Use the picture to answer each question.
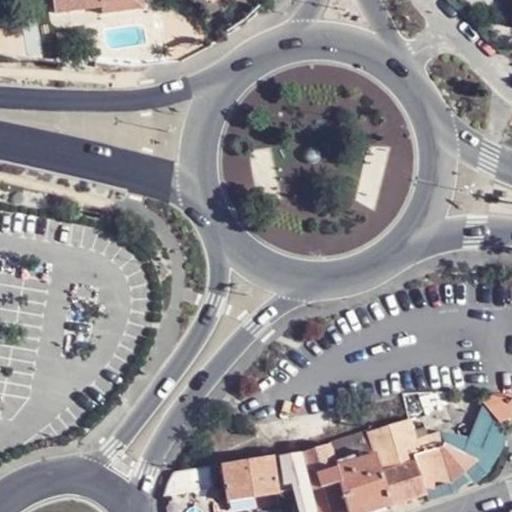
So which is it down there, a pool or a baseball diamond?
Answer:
pool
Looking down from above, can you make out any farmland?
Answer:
No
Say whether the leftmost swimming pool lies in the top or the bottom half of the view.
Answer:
top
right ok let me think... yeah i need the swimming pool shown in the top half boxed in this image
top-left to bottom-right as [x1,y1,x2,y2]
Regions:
[104,24,148,50]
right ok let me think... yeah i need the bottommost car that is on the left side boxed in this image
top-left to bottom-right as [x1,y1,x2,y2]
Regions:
[142,474,156,494]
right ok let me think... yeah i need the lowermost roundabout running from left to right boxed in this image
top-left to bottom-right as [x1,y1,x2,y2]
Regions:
[0,456,132,512]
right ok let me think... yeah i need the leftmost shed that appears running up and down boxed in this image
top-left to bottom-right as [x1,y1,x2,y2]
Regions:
[24,22,42,58]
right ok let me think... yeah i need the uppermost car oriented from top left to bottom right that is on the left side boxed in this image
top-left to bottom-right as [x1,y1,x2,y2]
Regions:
[187,206,208,225]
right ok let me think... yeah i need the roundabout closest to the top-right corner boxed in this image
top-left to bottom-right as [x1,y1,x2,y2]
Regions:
[176,18,459,301]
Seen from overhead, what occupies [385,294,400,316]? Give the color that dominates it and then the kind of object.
white vehicle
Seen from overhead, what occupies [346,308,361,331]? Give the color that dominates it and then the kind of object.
white vehicle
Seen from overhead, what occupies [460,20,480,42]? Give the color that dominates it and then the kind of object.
white car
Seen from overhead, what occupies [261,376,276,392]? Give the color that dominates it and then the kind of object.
white car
